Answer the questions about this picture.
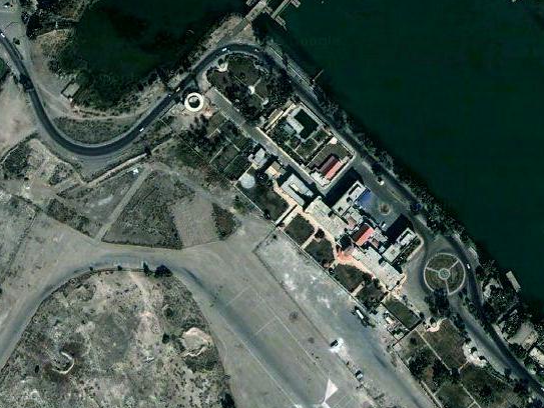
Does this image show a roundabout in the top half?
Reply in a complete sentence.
No, no roundabout appears in the top half.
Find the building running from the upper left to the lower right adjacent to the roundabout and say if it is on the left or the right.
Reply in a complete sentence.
The building running from the upper left to the lower right adjacent to the roundabout sits on the right side.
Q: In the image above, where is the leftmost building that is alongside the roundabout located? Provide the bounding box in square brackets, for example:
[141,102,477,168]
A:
[352,247,403,290]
